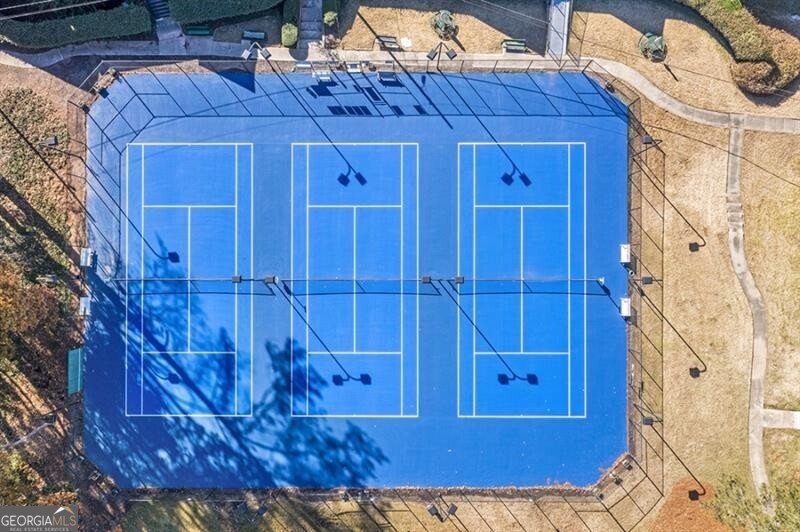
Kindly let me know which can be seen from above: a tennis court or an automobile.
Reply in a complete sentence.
Of the two, only a tennis court appears.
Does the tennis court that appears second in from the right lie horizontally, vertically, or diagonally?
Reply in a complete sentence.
Seen from above, the tennis court that appears second in from the right lies vertically.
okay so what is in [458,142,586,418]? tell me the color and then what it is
blue tennis court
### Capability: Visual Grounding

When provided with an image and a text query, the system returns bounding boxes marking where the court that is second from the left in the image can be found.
[291,143,418,417]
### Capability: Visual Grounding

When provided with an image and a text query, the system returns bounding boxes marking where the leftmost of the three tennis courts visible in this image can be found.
[125,144,252,416]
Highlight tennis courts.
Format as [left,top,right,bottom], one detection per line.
[125,144,252,416]
[291,143,418,417]
[458,142,586,418]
